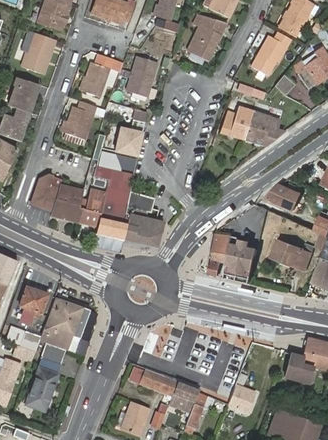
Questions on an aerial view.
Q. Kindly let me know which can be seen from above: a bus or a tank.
bus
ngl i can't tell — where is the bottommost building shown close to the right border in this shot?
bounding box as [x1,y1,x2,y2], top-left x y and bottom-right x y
[268,410,322,440]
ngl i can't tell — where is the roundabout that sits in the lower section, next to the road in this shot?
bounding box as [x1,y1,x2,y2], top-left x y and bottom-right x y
[100,253,180,324]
